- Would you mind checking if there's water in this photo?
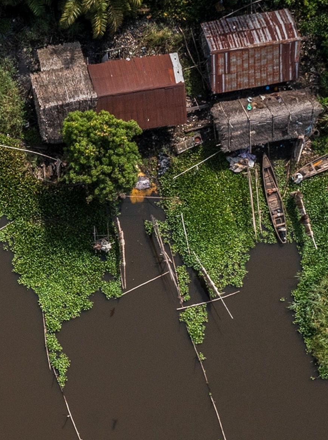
Yes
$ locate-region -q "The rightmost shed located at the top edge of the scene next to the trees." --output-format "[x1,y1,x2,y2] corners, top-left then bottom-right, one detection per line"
[193,8,300,100]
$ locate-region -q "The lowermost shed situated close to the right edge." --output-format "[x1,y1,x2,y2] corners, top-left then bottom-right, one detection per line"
[208,88,324,155]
